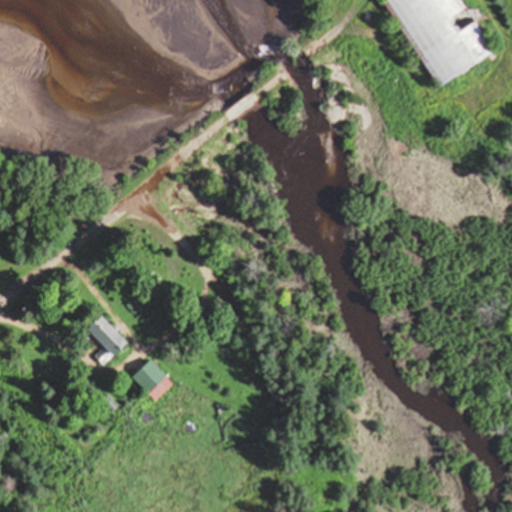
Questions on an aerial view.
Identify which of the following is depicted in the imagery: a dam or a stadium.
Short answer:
dam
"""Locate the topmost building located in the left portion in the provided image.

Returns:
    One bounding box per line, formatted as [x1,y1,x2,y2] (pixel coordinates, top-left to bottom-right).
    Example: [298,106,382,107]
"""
[88,316,128,356]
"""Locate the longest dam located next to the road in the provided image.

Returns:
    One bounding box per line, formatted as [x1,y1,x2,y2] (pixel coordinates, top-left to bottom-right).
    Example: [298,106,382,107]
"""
[97,70,293,228]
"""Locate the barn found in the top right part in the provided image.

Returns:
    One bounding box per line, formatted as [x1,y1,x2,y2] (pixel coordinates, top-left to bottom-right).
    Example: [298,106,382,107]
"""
[386,0,498,87]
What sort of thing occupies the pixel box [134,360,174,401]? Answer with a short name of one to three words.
building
